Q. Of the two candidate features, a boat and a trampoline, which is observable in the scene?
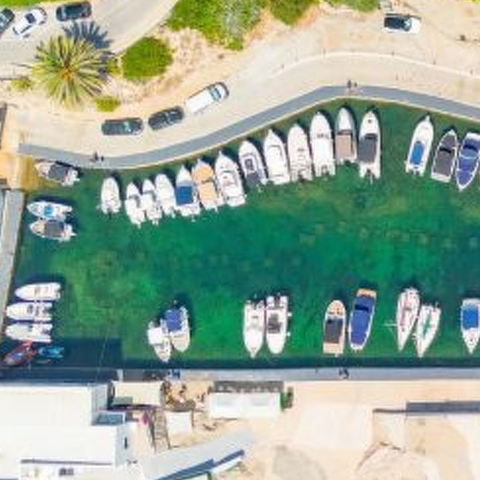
boat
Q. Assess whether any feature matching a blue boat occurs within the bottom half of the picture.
Yes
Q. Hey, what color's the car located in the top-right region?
white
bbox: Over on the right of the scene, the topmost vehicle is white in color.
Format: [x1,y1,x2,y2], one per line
[384,14,422,35]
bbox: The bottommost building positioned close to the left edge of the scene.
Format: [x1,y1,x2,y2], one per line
[0,378,140,480]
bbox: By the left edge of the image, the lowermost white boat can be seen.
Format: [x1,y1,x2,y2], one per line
[5,321,60,342]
